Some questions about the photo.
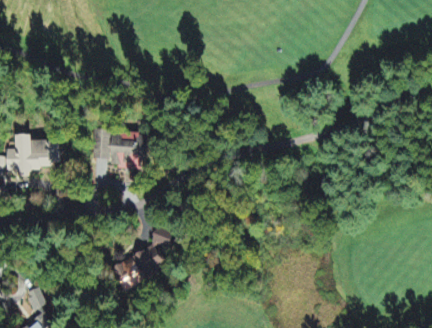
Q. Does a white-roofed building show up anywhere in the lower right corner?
No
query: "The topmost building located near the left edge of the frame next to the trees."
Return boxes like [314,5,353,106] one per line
[0,134,60,180]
